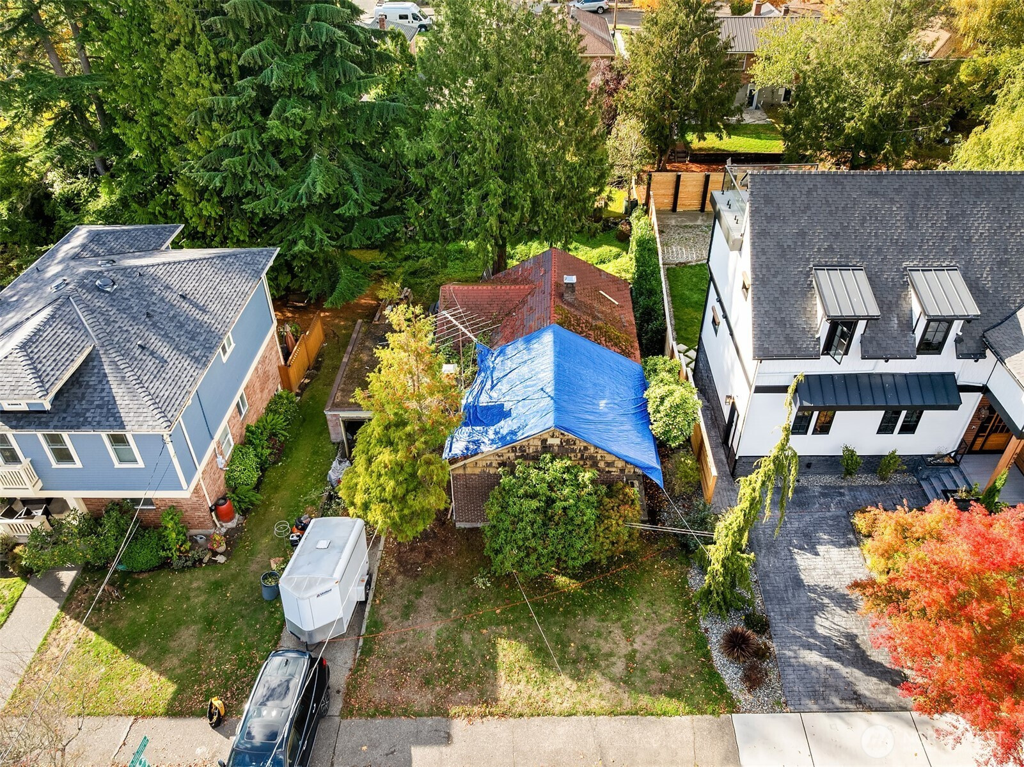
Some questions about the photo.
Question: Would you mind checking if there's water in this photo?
No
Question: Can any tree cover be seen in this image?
Yes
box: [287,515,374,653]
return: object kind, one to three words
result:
trailer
